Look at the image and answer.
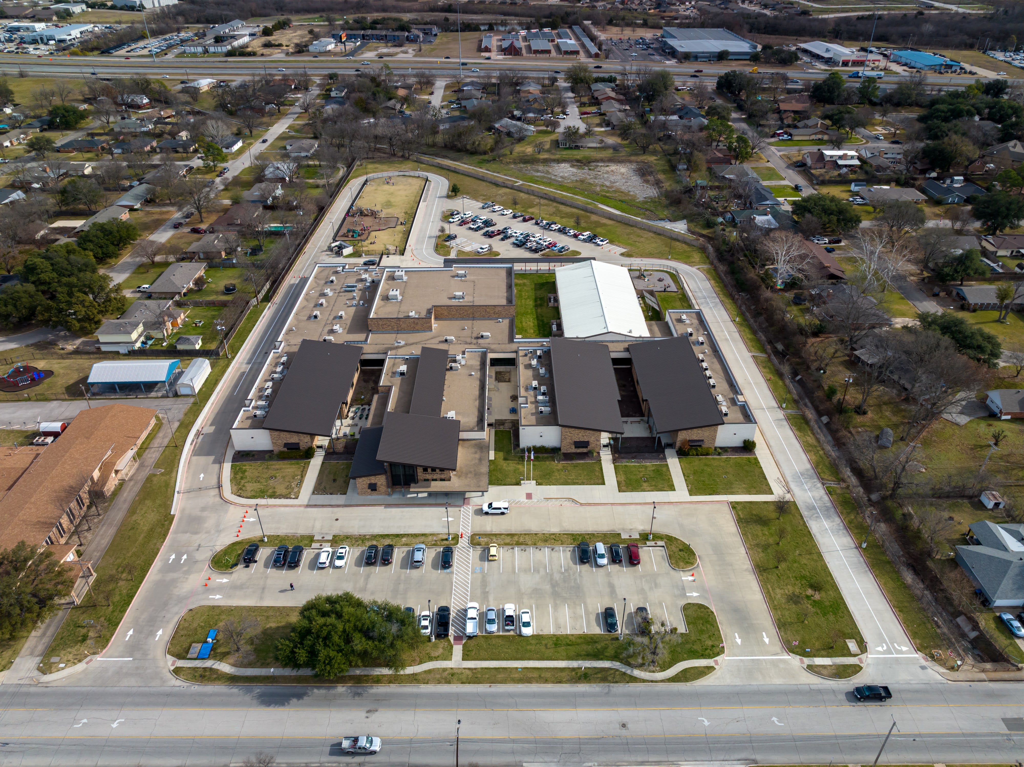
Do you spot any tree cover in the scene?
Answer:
Yes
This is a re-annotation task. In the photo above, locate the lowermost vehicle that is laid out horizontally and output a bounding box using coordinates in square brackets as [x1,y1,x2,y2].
[340,736,382,755]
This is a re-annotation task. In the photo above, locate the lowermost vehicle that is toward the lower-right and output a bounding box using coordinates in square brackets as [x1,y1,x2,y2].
[852,685,895,703]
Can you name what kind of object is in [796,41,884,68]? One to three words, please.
building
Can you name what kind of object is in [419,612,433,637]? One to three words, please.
car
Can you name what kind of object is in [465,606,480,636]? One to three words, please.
vehicle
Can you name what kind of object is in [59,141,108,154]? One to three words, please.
house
